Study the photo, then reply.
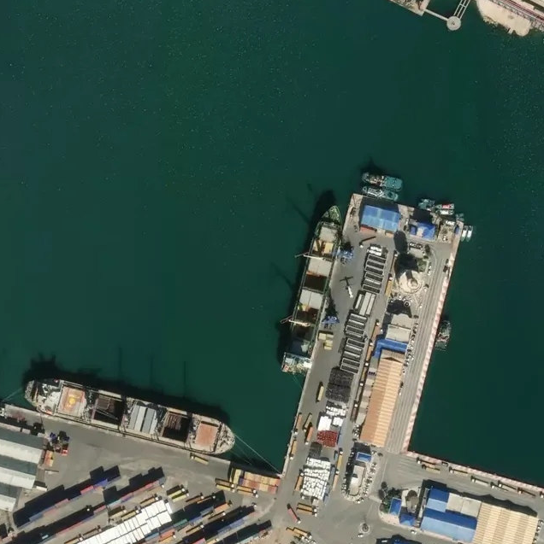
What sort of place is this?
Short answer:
port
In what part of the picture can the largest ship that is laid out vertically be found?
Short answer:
center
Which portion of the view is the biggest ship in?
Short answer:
bottom left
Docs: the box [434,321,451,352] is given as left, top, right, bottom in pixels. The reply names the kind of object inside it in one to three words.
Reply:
boat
